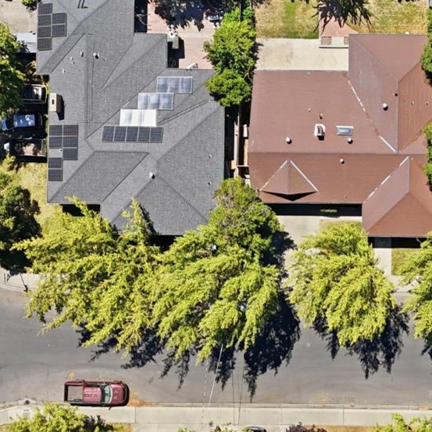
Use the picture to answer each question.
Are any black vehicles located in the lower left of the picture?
No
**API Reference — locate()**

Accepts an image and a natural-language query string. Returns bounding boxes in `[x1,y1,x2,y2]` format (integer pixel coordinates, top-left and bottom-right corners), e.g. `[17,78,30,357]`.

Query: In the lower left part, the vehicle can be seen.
[62,379,130,408]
